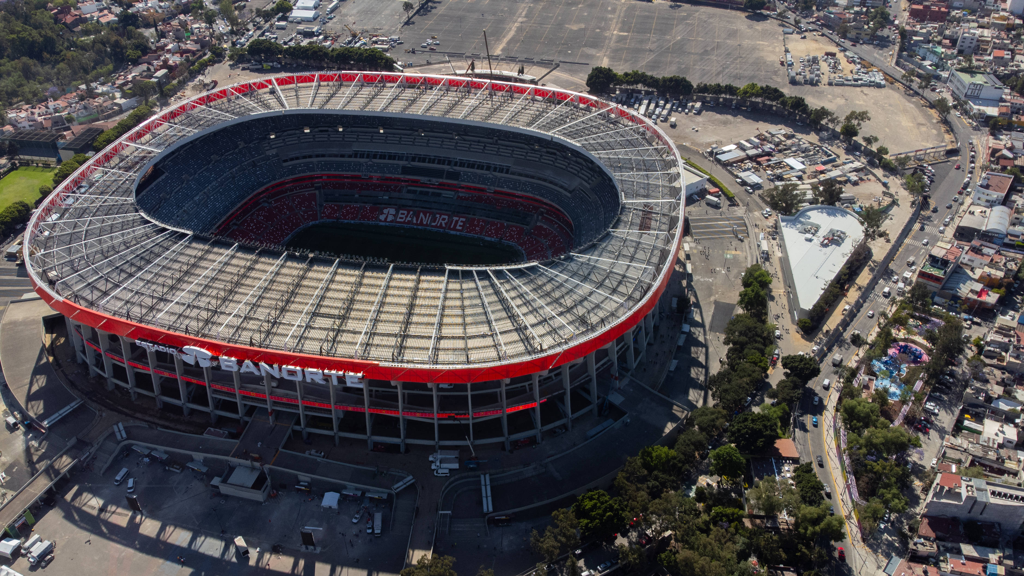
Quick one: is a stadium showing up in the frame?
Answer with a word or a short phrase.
Yes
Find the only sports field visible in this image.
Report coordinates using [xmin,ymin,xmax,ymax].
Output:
[277,222,533,270]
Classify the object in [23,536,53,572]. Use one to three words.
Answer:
truck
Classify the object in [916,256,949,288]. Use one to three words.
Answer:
house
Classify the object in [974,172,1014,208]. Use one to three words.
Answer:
building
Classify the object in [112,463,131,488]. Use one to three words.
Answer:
vehicle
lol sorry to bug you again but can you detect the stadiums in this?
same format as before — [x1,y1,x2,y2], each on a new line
[19,69,685,454]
